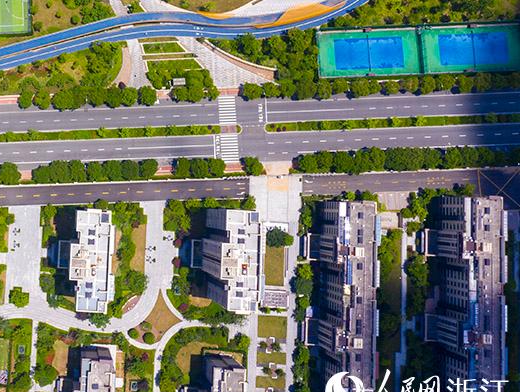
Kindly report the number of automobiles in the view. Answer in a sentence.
The count of automobiles is 0.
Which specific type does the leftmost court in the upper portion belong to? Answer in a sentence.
It turns out the leftmost court in the upper portion is a tennis court.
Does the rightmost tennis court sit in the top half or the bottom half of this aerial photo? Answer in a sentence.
The top half of the photo is where the rightmost tennis court is.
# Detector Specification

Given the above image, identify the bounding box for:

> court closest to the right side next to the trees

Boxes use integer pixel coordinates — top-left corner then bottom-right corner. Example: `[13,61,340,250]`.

[423,18,520,76]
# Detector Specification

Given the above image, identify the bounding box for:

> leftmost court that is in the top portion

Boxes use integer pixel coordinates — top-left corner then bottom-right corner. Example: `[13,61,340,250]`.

[316,22,427,80]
